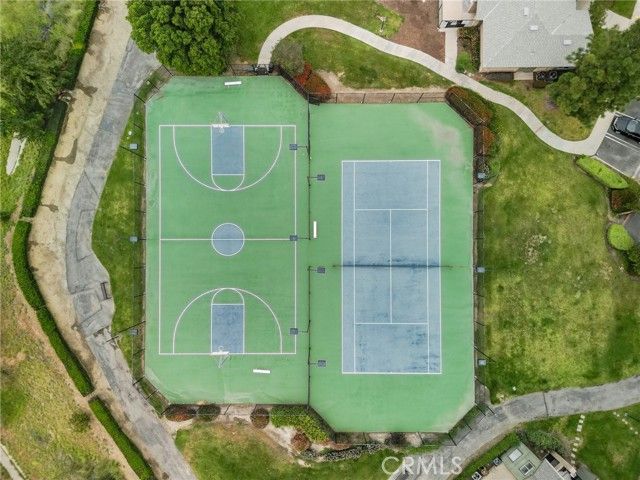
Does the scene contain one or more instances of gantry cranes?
No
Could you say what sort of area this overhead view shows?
sports ground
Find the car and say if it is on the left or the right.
right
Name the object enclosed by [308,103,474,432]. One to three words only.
tennis court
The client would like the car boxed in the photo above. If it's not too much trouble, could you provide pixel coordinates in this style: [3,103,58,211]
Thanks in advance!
[609,118,640,149]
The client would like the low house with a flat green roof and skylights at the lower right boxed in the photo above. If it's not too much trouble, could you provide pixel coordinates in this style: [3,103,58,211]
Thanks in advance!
[498,438,561,480]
